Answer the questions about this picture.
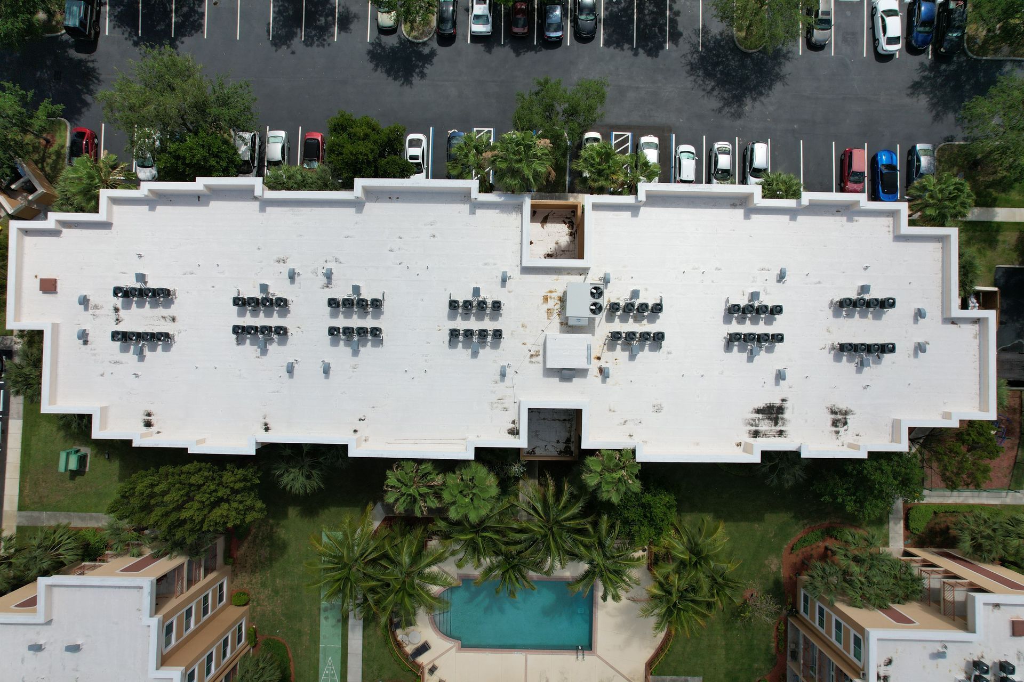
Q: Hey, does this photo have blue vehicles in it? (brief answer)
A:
Yes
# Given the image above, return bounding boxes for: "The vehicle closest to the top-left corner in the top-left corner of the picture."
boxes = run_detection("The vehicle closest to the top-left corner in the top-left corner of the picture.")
[66,0,100,45]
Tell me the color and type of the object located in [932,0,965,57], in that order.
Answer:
black car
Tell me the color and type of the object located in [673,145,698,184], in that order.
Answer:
white car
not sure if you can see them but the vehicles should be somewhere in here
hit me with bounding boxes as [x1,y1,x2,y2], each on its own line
[68,127,100,167]
[404,133,429,179]
[580,132,602,149]
[264,131,292,173]
[840,149,868,193]
[471,0,493,38]
[66,0,100,45]
[908,144,935,186]
[872,149,904,202]
[908,0,938,51]
[235,131,261,177]
[436,0,459,38]
[932,0,965,57]
[807,0,835,47]
[374,0,400,32]
[635,136,661,180]
[709,142,735,185]
[572,0,598,39]
[869,0,900,57]
[745,142,770,189]
[673,145,698,184]
[303,132,327,169]
[540,0,566,42]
